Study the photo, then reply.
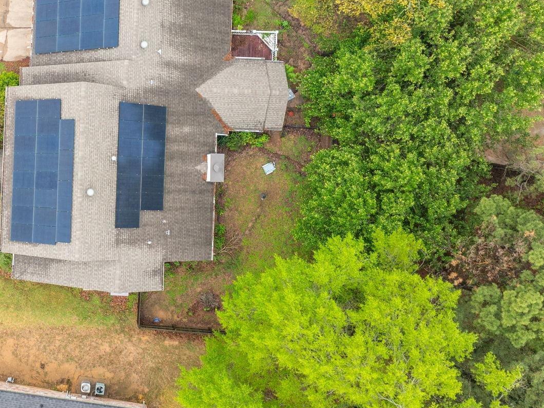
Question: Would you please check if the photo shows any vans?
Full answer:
No, no van can be seen from above.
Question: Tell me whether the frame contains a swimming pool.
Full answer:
No, no swimming pool is visible in the scene.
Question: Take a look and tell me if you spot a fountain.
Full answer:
No, I find no fountain anywhere in the image.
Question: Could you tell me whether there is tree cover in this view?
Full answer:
Yes, there is tree cover in the image.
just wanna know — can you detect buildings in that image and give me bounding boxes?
[0,0,287,295]
[0,377,155,408]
